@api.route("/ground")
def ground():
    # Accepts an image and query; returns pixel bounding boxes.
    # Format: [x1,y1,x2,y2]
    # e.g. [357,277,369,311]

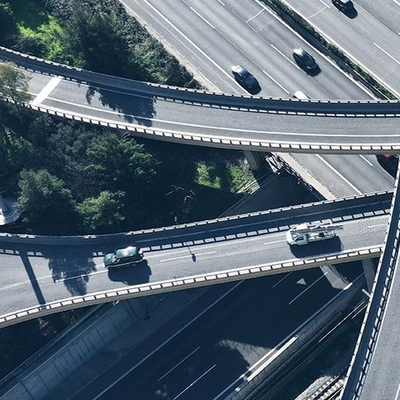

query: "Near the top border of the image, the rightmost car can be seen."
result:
[329,0,356,13]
